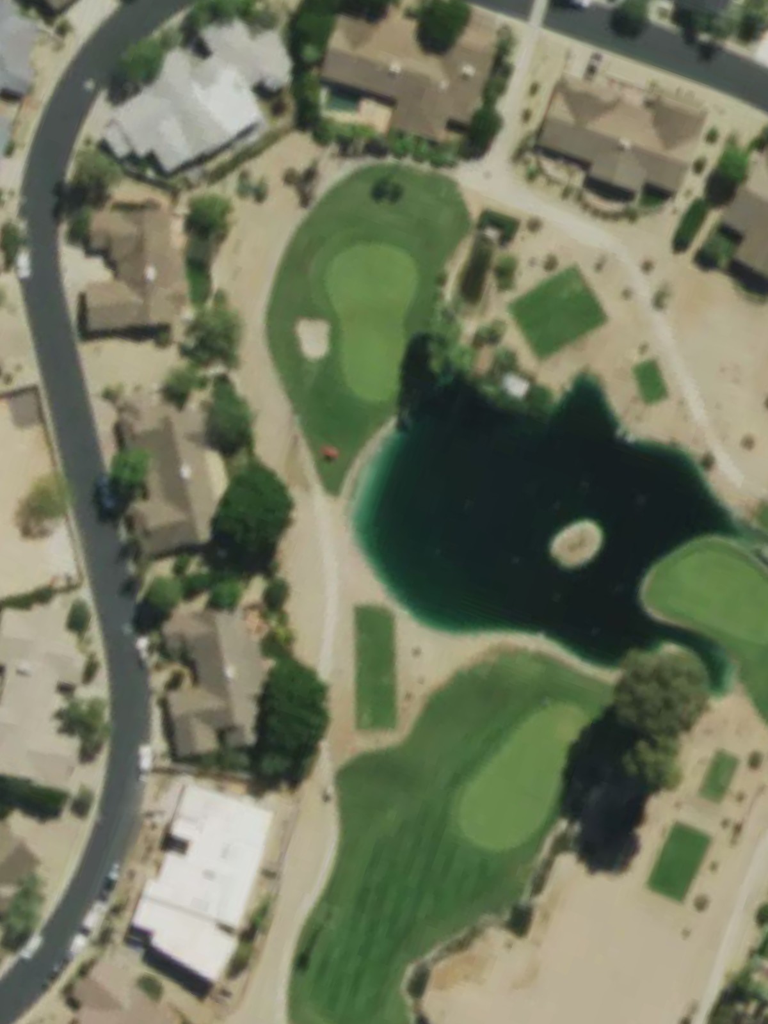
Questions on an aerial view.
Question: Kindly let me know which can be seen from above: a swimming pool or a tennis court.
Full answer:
It is a swimming pool that can be seen here.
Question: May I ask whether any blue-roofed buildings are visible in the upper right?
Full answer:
No, no blue-roofed building is visible in the upper right.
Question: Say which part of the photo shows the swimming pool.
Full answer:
The swimming pool sits in the top section of the image.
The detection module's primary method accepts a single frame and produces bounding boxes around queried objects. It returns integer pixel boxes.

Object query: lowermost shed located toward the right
[502,373,530,401]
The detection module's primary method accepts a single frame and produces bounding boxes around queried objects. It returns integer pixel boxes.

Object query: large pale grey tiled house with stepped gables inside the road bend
[106,16,293,170]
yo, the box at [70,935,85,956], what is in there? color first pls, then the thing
white car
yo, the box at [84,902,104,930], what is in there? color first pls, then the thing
white vehicle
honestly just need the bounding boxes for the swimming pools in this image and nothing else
[325,85,364,112]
